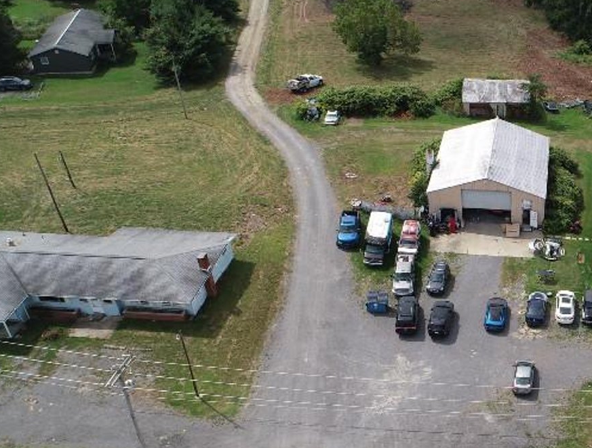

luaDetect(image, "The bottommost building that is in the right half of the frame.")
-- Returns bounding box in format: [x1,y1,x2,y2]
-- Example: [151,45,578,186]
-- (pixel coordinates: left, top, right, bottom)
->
[428,117,552,230]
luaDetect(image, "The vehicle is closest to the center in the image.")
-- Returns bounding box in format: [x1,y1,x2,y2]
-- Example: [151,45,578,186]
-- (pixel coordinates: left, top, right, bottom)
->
[335,214,361,248]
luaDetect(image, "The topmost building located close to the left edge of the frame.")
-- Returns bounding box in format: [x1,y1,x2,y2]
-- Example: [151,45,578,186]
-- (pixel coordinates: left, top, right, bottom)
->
[24,6,132,74]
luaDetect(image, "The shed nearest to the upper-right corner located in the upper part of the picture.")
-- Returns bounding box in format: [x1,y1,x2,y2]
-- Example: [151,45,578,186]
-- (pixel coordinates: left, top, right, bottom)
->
[462,79,532,118]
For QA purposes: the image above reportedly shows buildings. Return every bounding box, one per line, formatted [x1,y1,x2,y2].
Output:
[24,6,132,74]
[428,117,552,230]
[462,79,532,118]
[0,229,243,351]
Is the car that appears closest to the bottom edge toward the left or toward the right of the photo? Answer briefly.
right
